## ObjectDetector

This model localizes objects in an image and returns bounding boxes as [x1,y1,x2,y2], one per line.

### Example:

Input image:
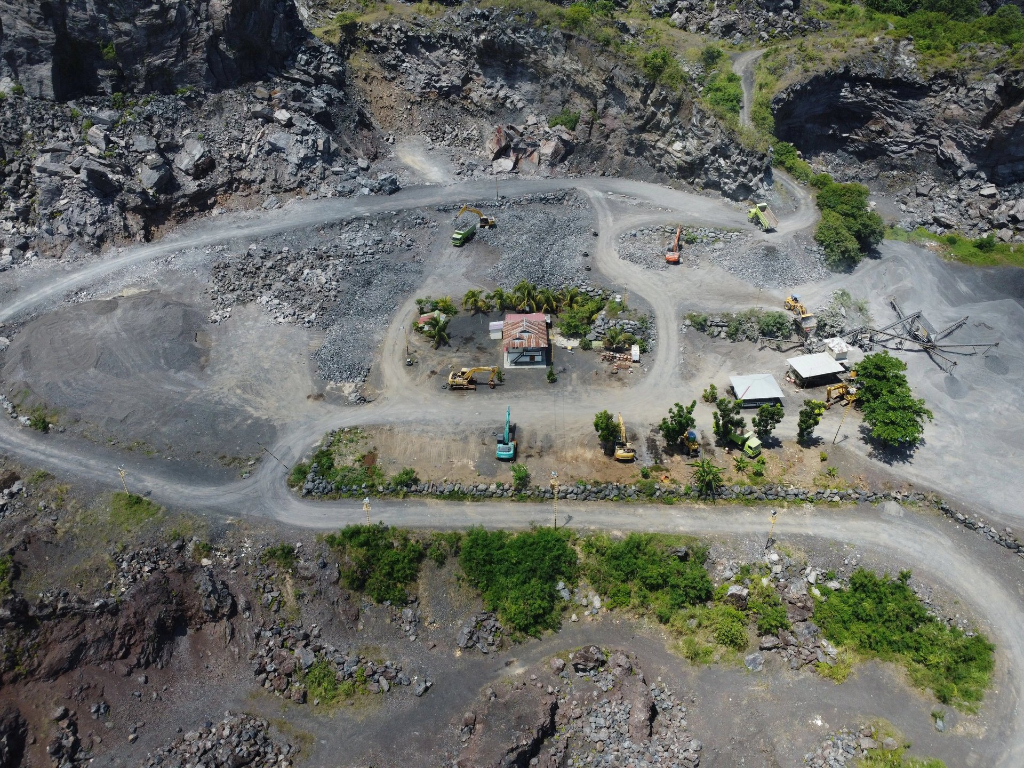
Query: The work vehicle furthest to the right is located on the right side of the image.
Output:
[820,379,865,406]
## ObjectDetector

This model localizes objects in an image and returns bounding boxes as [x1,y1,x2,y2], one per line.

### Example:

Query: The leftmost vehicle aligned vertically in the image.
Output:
[496,399,516,461]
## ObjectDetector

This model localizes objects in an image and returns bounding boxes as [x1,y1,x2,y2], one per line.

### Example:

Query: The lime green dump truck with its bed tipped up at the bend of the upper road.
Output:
[744,201,782,234]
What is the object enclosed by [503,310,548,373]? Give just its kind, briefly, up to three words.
house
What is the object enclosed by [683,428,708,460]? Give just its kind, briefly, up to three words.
work vehicle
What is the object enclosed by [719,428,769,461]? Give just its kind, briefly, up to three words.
truck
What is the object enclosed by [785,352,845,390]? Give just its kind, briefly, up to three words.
shed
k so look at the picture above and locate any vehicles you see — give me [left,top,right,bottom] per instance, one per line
[613,428,639,464]
[744,201,782,234]
[452,217,479,247]
[447,363,498,393]
[820,379,865,406]
[496,399,516,461]
[683,428,708,460]
[719,428,769,461]
[666,216,681,262]
[777,294,817,318]
[455,201,497,227]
